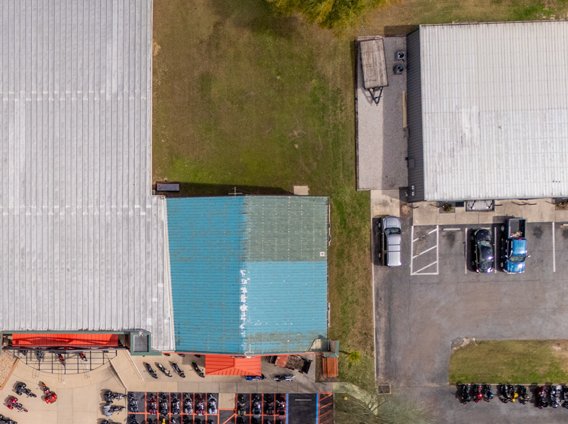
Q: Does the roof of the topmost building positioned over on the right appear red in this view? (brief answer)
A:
No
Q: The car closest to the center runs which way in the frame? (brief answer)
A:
from top to bottom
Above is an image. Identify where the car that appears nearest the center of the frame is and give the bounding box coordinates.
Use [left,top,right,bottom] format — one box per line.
[379,217,404,266]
